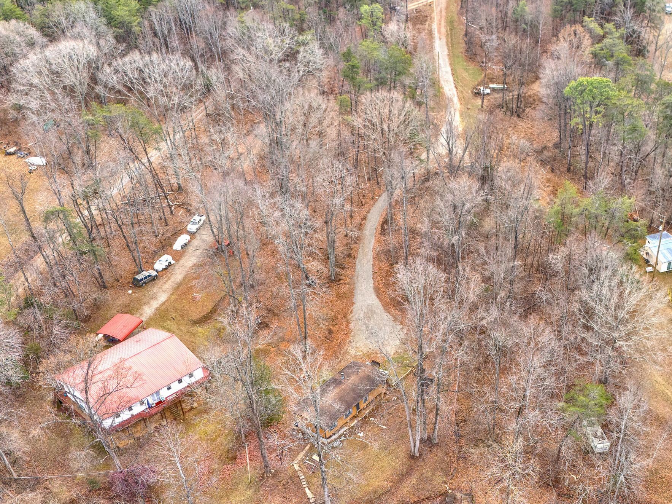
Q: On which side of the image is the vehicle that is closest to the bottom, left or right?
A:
right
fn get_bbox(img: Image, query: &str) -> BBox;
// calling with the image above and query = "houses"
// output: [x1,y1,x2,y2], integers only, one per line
[295,364,387,448]
[643,235,672,274]
[50,326,217,457]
